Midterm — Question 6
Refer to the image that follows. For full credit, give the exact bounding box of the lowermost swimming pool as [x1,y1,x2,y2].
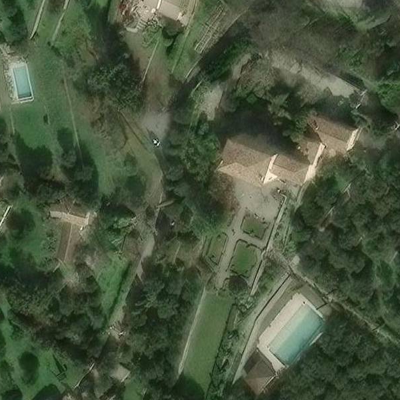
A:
[247,291,326,374]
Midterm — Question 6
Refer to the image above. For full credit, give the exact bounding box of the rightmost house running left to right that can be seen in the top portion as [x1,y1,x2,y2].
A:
[216,121,358,191]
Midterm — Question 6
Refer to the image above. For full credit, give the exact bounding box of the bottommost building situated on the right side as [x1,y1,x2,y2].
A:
[238,351,279,388]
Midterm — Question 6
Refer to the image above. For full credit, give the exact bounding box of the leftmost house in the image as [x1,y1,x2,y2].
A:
[49,211,92,259]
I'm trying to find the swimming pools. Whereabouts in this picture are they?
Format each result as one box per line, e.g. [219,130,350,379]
[247,291,326,374]
[2,48,34,102]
